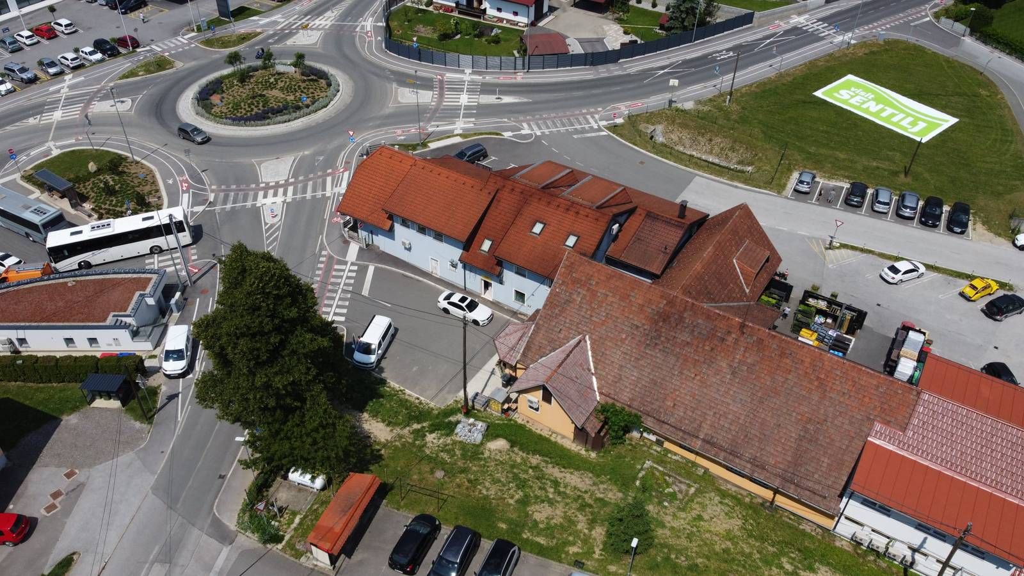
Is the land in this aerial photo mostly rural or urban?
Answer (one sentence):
This place is urban.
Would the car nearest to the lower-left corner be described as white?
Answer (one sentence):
No, from above the car nearest to the lower-left corner looks red.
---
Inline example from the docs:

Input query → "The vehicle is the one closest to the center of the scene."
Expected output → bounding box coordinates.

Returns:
[437,293,492,323]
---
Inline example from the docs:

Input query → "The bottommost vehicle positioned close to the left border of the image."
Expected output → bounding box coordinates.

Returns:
[0,509,38,547]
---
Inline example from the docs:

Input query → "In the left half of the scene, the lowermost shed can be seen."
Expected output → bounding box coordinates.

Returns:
[308,473,383,573]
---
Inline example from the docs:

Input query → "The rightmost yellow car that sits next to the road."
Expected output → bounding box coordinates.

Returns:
[960,278,1003,304]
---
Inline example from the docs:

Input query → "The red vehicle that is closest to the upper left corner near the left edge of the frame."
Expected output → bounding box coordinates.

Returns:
[32,27,56,41]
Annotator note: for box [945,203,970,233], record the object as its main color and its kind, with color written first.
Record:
black car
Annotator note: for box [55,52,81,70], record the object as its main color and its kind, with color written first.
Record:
white car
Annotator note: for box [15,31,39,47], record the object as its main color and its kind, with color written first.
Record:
white car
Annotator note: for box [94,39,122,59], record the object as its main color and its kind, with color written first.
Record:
black car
